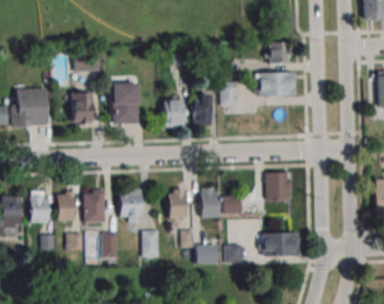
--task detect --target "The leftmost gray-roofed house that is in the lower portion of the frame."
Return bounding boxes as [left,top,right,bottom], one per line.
[0,197,24,238]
